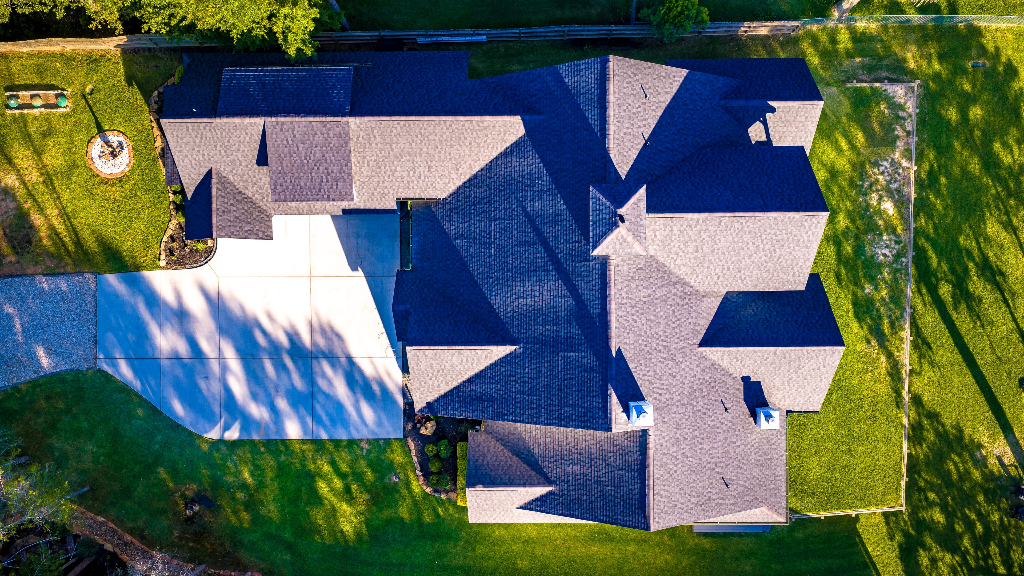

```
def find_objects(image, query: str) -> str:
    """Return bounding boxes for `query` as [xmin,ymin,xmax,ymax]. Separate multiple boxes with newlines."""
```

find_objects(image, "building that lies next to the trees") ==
[156,51,845,532]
